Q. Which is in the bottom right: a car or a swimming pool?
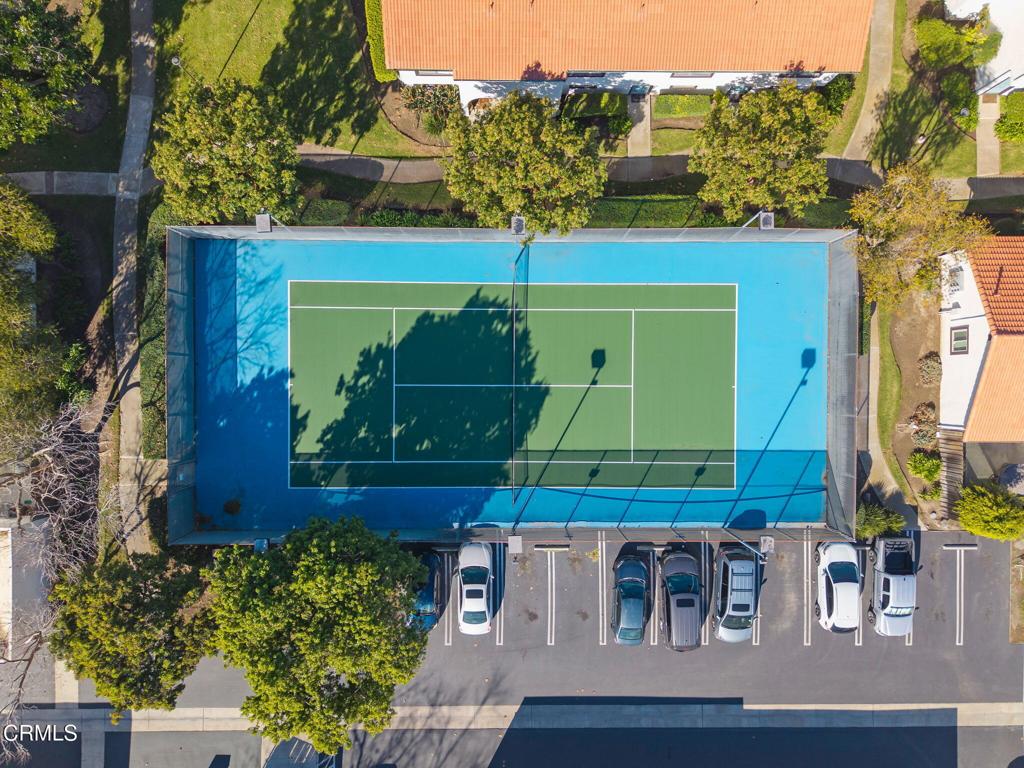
car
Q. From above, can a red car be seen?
No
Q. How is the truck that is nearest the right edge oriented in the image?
up and down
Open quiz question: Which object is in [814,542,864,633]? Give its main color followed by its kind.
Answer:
white car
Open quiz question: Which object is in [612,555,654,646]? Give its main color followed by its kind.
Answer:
blue car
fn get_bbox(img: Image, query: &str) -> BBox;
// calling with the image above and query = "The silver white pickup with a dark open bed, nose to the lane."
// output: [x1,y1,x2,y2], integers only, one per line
[868,536,920,636]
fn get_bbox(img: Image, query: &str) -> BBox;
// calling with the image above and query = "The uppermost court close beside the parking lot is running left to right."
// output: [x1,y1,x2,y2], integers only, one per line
[193,238,829,528]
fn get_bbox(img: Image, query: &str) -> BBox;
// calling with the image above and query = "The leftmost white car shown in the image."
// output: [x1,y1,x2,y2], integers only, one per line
[455,542,496,635]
